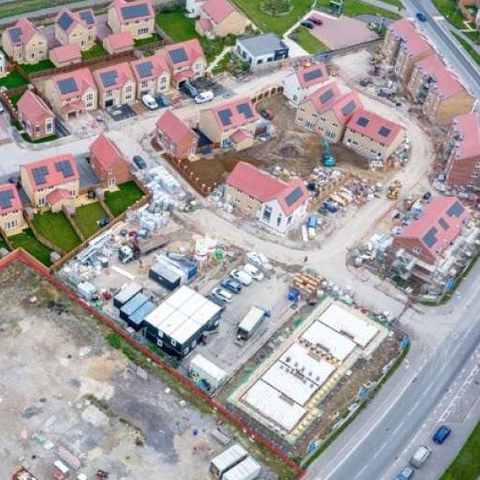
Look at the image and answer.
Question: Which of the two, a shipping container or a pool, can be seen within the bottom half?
shipping container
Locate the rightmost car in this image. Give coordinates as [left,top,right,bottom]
[433,422,452,442]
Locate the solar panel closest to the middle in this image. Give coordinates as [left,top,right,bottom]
[285,184,308,207]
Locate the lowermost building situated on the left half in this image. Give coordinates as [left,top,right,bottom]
[142,286,221,362]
